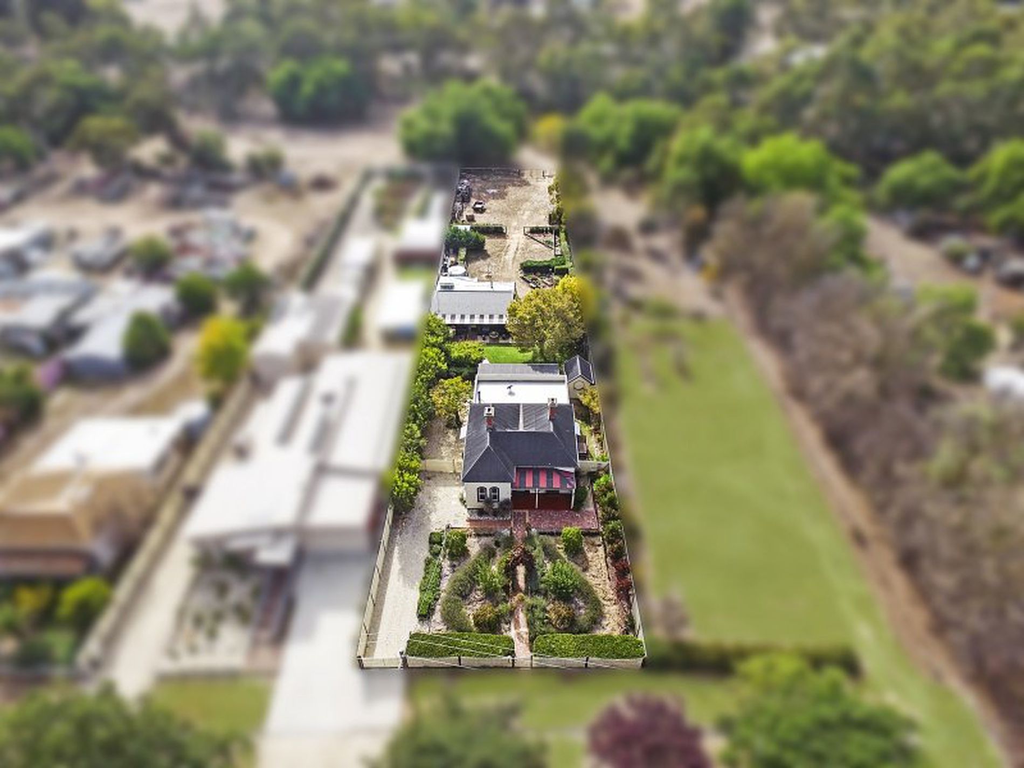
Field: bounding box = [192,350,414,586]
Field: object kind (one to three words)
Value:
building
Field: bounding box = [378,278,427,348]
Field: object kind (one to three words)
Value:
shed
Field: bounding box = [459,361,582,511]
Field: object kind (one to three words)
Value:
house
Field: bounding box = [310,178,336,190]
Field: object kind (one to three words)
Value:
vehicle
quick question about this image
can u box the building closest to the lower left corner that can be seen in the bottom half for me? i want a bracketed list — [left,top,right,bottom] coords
[0,409,190,592]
